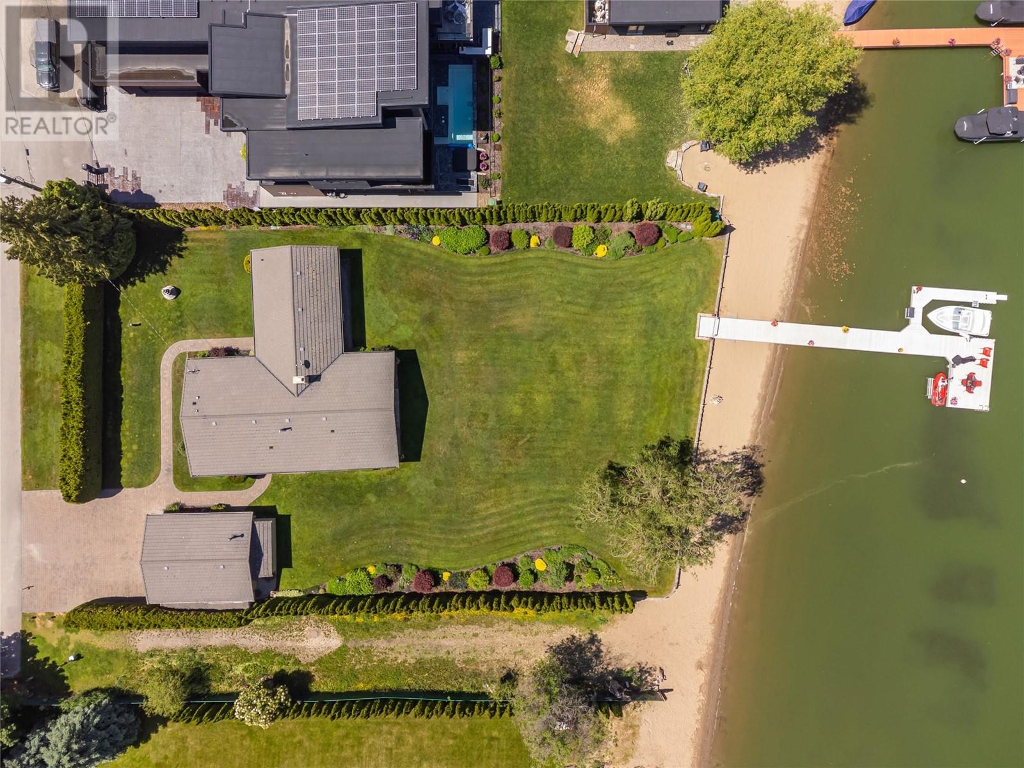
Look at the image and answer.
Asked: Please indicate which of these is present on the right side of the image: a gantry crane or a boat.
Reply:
boat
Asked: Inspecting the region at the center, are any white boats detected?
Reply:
No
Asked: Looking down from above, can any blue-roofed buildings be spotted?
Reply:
No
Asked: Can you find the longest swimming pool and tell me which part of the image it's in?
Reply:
top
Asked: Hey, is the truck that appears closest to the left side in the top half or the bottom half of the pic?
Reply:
top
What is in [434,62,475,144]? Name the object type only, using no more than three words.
swimming pool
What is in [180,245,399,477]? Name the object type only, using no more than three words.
house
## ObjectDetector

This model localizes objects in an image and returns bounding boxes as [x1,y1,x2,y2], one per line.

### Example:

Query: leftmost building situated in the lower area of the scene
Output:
[140,510,260,606]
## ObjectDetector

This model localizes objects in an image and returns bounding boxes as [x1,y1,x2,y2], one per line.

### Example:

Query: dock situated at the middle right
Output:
[695,286,1007,413]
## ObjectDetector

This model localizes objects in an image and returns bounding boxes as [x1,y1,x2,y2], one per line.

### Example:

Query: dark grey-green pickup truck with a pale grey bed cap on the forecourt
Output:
[30,14,64,87]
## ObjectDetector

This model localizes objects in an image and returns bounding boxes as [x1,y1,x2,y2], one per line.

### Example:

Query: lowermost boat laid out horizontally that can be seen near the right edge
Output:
[930,308,991,336]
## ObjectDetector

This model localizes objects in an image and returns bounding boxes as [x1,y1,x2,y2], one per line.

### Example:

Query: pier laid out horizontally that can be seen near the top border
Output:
[842,27,1024,110]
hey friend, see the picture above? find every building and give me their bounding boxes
[140,510,260,606]
[67,0,473,196]
[583,0,721,40]
[180,245,399,477]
